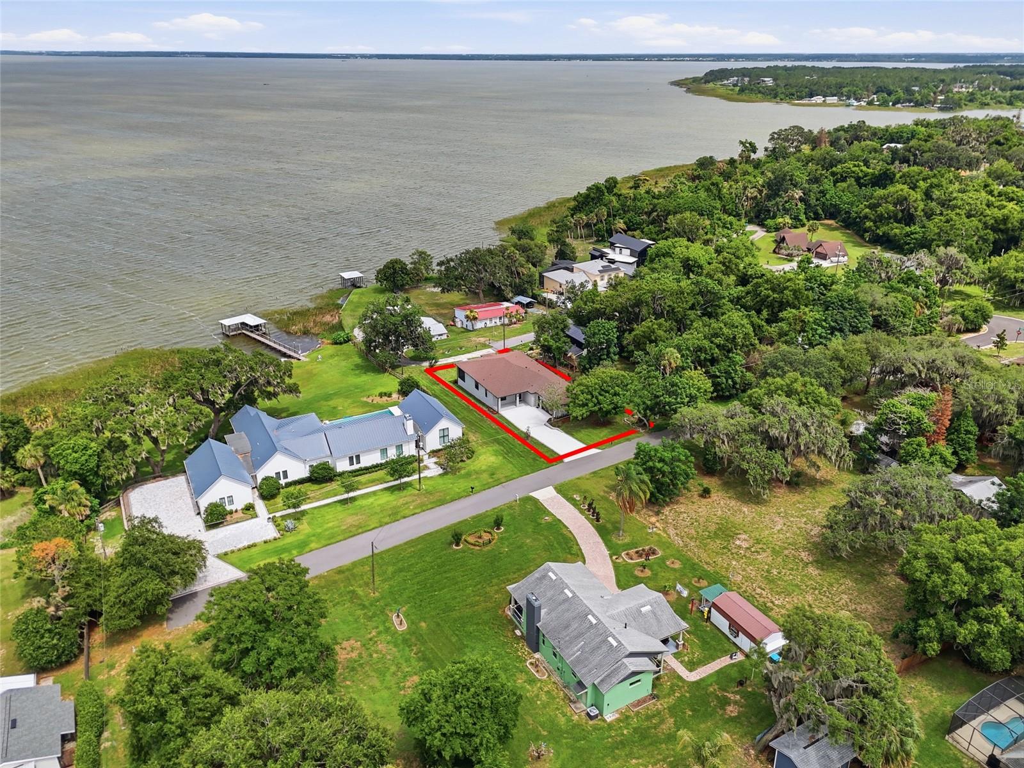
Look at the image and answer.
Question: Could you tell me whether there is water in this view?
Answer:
Yes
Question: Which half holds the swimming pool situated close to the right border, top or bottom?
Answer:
bottom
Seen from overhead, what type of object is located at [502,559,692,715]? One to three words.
building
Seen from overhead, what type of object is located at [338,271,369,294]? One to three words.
building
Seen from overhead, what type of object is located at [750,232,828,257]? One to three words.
house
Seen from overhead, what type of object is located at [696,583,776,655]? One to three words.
shed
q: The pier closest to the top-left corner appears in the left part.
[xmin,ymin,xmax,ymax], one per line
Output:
[216,312,309,362]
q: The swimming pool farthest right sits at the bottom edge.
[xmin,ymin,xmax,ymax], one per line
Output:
[976,707,1024,756]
